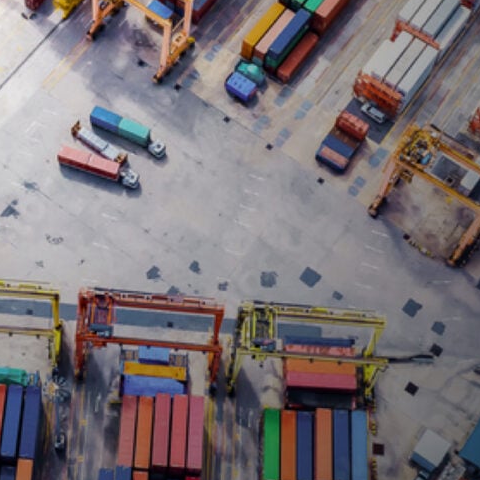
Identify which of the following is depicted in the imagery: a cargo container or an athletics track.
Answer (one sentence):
I can see a cargo container in this picture.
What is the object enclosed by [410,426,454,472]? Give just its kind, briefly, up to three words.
building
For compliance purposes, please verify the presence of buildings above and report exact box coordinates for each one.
[452,406,480,480]
[410,426,454,472]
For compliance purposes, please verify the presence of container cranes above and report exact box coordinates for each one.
[225,294,443,415]
[0,279,63,389]
[86,0,197,88]
[73,282,228,402]
[361,123,480,274]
